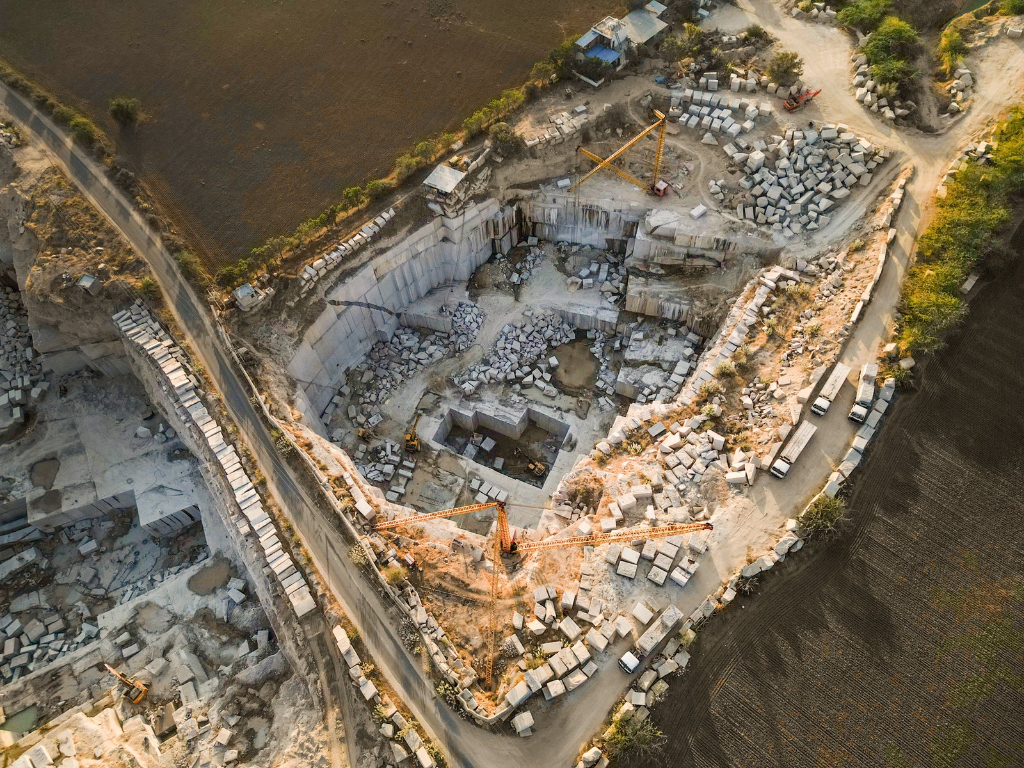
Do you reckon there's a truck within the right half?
Yes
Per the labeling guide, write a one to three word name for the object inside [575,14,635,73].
house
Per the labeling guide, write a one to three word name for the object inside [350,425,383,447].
work vehicle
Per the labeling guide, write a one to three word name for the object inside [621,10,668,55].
shed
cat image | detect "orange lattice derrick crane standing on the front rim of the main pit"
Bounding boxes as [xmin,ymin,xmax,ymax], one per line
[372,500,716,694]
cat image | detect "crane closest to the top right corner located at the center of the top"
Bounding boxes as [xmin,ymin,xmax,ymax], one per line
[566,108,670,194]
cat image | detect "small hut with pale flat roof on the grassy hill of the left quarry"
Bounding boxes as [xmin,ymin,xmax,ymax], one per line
[77,274,102,298]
